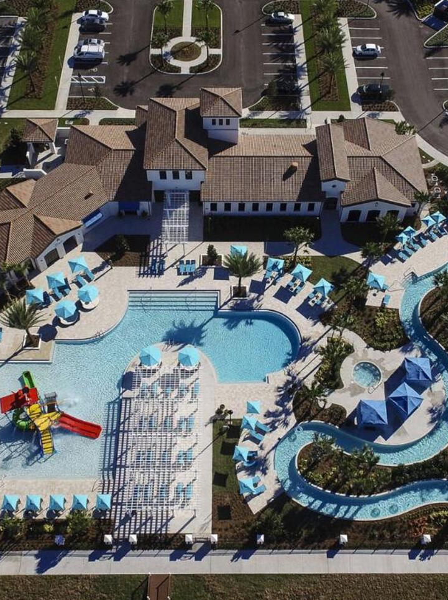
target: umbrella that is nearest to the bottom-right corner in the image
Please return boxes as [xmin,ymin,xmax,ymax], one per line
[240,477,258,495]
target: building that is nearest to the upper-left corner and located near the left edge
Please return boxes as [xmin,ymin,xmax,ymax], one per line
[21,118,60,144]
